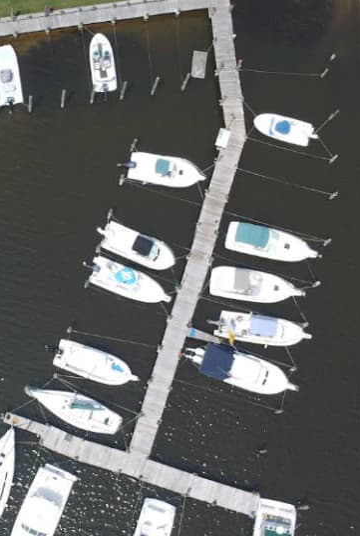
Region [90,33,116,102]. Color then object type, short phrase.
white boat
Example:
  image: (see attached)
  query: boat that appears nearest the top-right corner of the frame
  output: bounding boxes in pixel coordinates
[254,115,320,144]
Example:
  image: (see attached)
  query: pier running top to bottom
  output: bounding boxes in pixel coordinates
[131,0,248,452]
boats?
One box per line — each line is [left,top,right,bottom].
[90,33,116,102]
[96,221,177,268]
[203,309,312,349]
[254,115,320,144]
[11,454,84,536]
[181,340,300,394]
[25,388,122,436]
[220,222,317,261]
[117,153,206,186]
[250,497,299,536]
[83,257,171,300]
[45,339,139,383]
[131,496,177,536]
[0,46,23,115]
[0,429,15,516]
[209,268,302,303]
